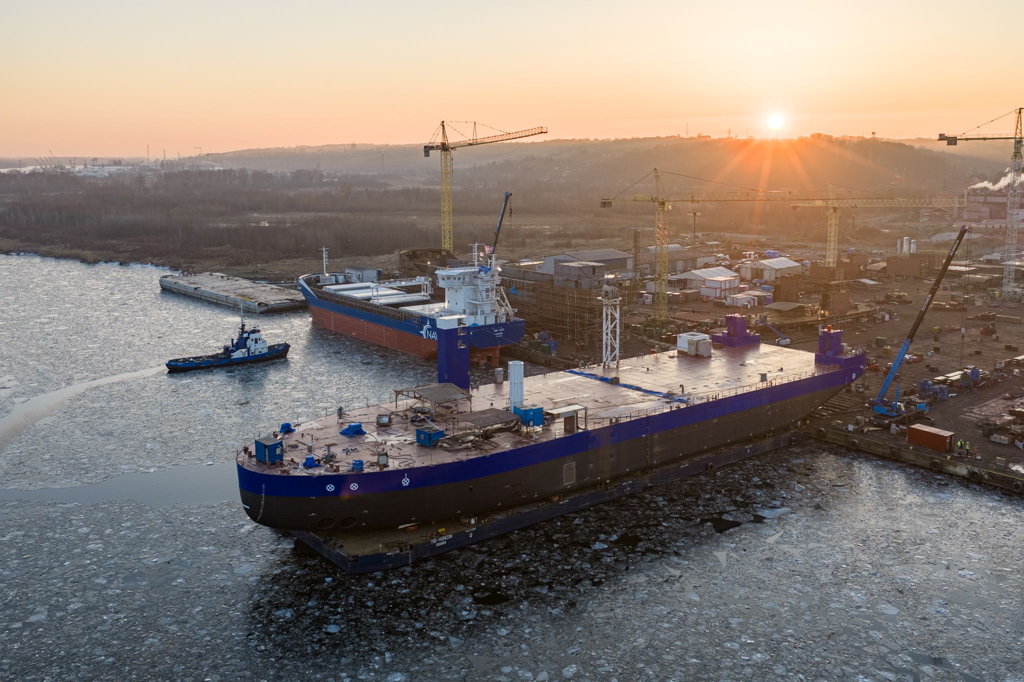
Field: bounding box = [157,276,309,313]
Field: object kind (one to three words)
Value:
pier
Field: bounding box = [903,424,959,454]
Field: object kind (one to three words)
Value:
shipping container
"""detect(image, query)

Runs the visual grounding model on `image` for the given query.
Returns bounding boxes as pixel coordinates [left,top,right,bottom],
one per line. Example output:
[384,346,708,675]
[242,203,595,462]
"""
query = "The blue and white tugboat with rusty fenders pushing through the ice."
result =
[161,293,286,371]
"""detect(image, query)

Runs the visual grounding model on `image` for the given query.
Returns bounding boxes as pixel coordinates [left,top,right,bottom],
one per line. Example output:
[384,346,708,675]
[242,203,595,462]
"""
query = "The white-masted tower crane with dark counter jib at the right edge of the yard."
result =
[936,108,1024,301]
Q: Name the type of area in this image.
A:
port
